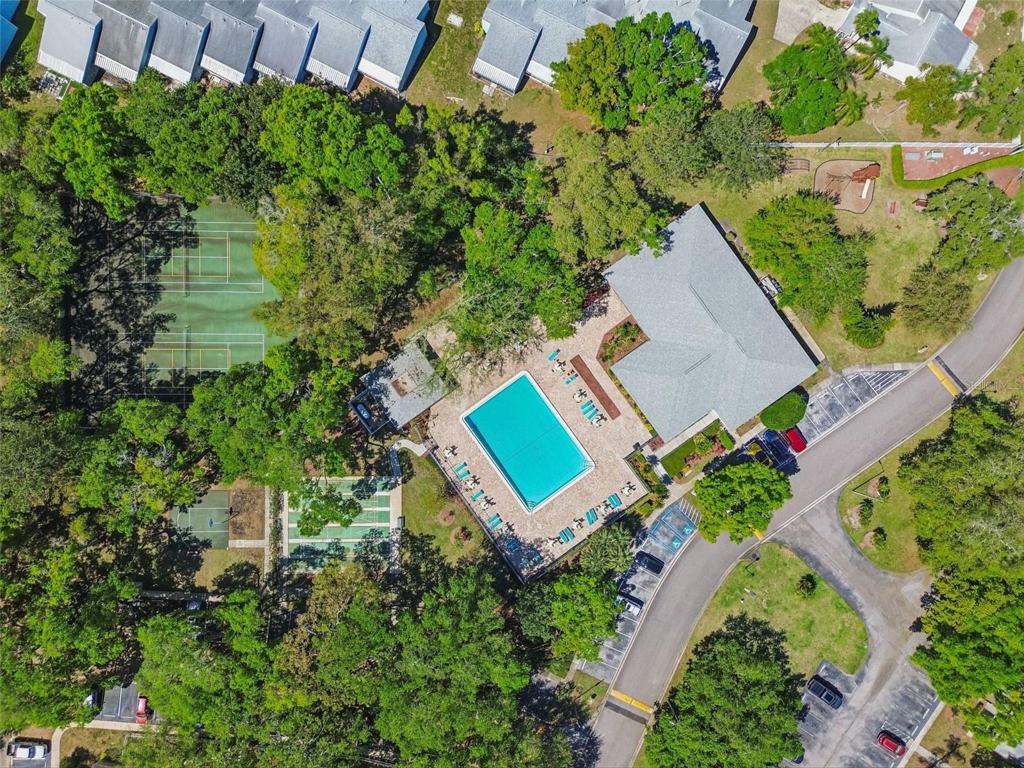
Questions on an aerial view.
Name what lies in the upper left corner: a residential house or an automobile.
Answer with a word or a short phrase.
residential house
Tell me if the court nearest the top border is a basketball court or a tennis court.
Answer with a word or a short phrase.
tennis court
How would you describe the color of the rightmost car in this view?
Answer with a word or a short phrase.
red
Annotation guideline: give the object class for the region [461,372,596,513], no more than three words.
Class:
swimming pool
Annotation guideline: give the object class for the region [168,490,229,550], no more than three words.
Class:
basketball court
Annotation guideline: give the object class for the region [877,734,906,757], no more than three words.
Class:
car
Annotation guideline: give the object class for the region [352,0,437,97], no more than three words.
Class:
house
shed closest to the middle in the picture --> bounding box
[360,340,456,428]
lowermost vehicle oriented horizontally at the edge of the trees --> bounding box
[7,741,49,760]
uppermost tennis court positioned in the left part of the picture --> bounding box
[69,194,295,312]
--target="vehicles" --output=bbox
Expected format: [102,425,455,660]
[616,594,647,617]
[806,677,844,709]
[750,442,776,469]
[877,734,906,757]
[764,430,791,460]
[780,427,807,455]
[639,554,666,575]
[7,741,49,760]
[134,696,149,724]
[786,748,809,766]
